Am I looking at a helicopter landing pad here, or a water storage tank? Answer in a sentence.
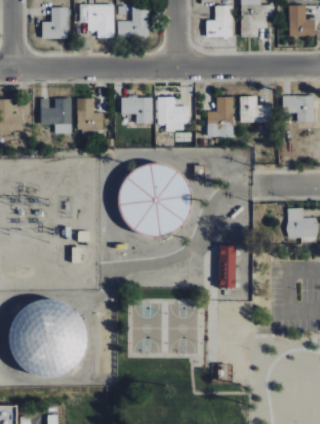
This aerial view contains a water storage tank.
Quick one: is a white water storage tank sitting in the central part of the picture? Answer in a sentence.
Yes, looking in the central part of the picture, one can make out a white water storage tank.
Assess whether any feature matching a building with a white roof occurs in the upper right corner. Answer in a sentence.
Yes, there is a building with a white roof in the upper right corner.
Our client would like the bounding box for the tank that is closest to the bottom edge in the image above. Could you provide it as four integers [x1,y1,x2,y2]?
[8,299,87,378]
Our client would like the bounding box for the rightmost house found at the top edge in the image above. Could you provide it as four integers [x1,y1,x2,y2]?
[288,4,314,36]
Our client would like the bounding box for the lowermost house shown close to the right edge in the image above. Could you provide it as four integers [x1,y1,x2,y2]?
[287,208,318,242]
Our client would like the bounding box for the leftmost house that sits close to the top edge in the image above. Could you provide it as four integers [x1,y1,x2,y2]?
[42,6,68,38]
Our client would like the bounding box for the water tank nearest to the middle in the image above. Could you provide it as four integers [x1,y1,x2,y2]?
[118,162,192,240]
